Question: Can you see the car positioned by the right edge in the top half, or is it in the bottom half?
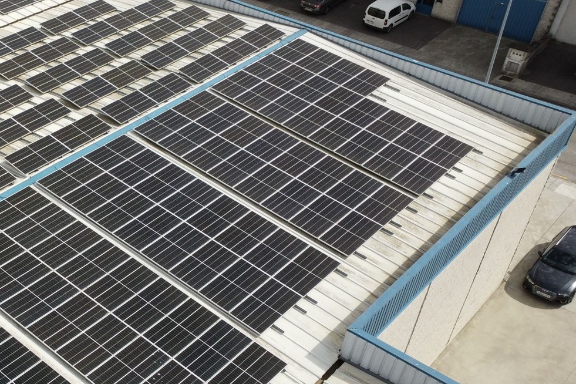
bottom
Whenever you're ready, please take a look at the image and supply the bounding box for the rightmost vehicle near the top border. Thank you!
[363,0,419,33]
